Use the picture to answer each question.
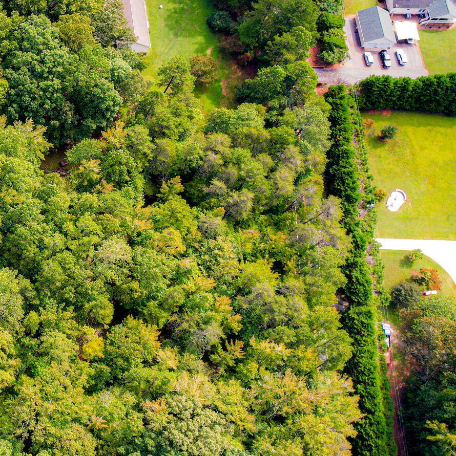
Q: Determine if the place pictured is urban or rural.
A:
rural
